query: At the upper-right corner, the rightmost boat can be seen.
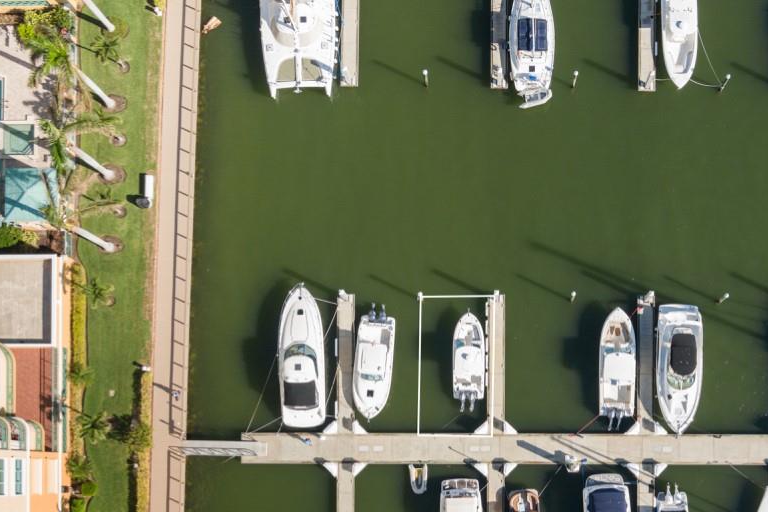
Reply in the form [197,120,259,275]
[660,0,698,94]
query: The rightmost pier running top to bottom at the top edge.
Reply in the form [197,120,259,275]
[638,0,658,93]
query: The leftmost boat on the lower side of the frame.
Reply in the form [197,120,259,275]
[280,280,331,429]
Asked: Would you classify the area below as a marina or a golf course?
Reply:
marina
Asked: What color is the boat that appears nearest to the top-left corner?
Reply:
white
